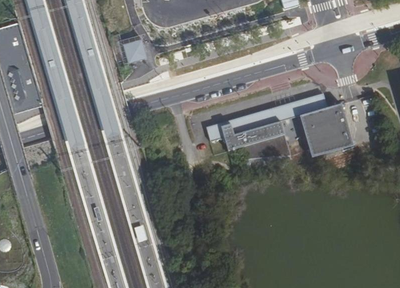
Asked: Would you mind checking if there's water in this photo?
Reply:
Yes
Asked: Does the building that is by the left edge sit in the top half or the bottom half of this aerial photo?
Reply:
top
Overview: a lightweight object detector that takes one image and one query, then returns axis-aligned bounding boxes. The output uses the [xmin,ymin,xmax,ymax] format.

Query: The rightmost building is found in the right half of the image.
[300,102,354,156]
